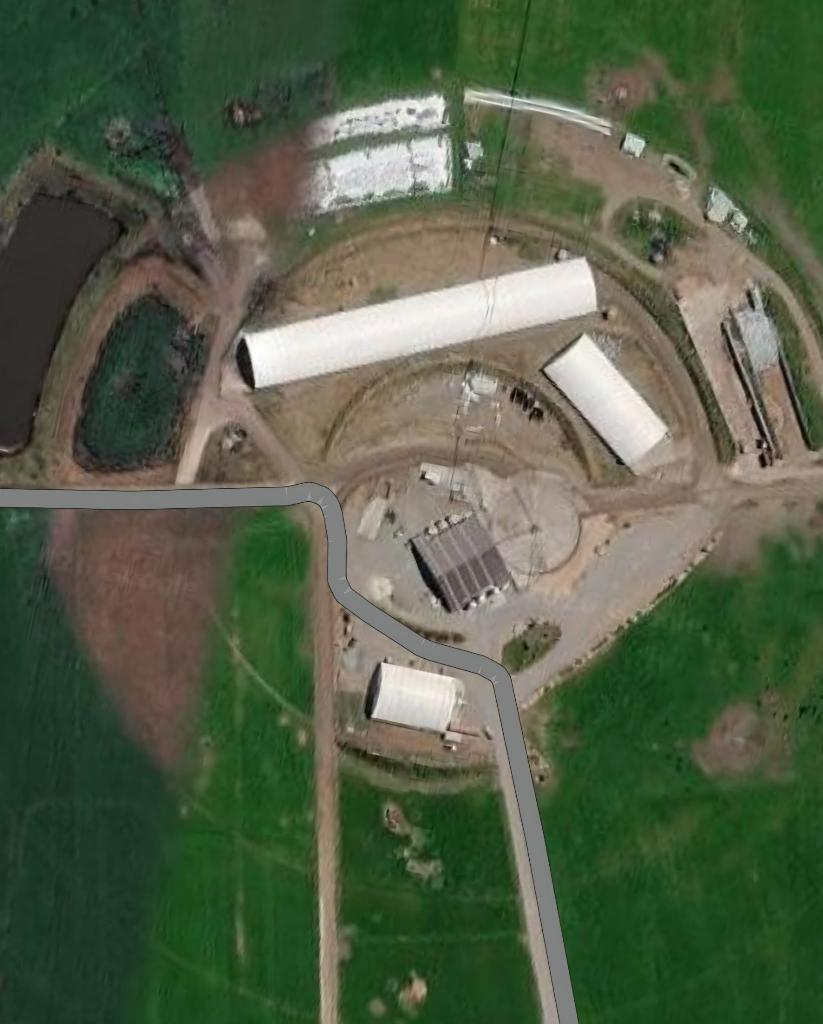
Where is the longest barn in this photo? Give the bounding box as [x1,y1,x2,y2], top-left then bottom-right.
[245,259,598,388]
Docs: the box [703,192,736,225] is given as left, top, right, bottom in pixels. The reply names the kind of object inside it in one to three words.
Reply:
shed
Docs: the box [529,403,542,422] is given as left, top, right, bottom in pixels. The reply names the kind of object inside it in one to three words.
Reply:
vehicle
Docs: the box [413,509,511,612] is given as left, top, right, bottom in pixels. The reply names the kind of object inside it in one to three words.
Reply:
building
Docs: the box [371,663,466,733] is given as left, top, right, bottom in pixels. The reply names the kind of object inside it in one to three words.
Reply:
barn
